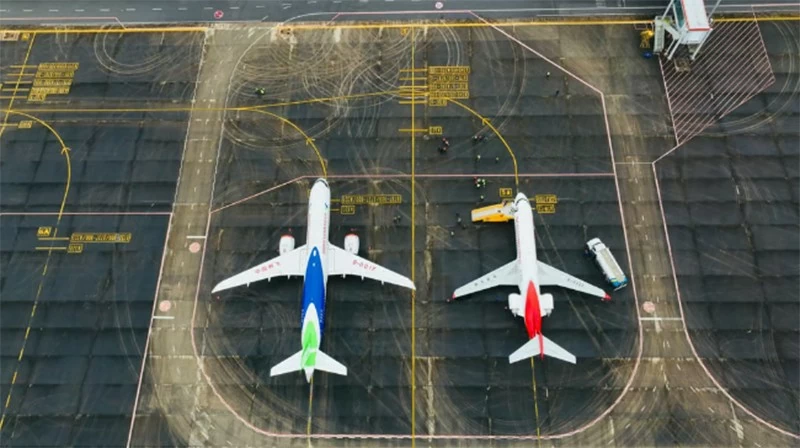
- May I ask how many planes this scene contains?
2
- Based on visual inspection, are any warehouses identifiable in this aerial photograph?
No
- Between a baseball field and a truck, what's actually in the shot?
truck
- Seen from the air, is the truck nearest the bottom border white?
Yes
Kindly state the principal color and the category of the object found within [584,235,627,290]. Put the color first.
white truck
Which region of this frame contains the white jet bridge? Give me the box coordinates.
[648,0,723,59]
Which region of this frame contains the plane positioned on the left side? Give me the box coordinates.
[211,179,416,385]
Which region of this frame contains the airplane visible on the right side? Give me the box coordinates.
[452,193,613,364]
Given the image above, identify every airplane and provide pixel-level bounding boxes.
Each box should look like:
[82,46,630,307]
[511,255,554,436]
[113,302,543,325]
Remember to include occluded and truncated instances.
[211,179,416,385]
[452,193,613,364]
